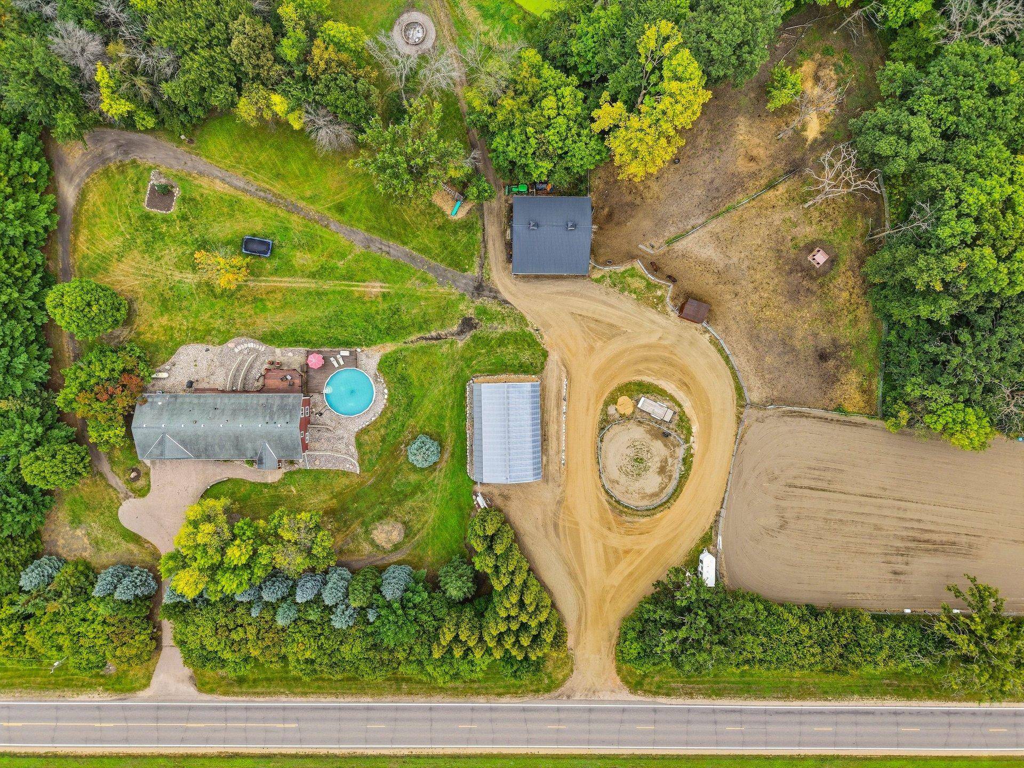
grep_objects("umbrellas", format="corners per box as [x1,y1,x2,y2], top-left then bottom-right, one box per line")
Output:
[308,353,325,370]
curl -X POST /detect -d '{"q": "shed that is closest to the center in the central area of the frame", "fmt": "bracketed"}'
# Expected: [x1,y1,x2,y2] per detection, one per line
[472,381,541,483]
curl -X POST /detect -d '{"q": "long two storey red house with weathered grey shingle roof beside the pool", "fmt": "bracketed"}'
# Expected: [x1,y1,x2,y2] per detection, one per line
[128,394,310,470]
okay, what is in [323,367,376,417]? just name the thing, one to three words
swimming pool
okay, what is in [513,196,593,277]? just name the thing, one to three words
barn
